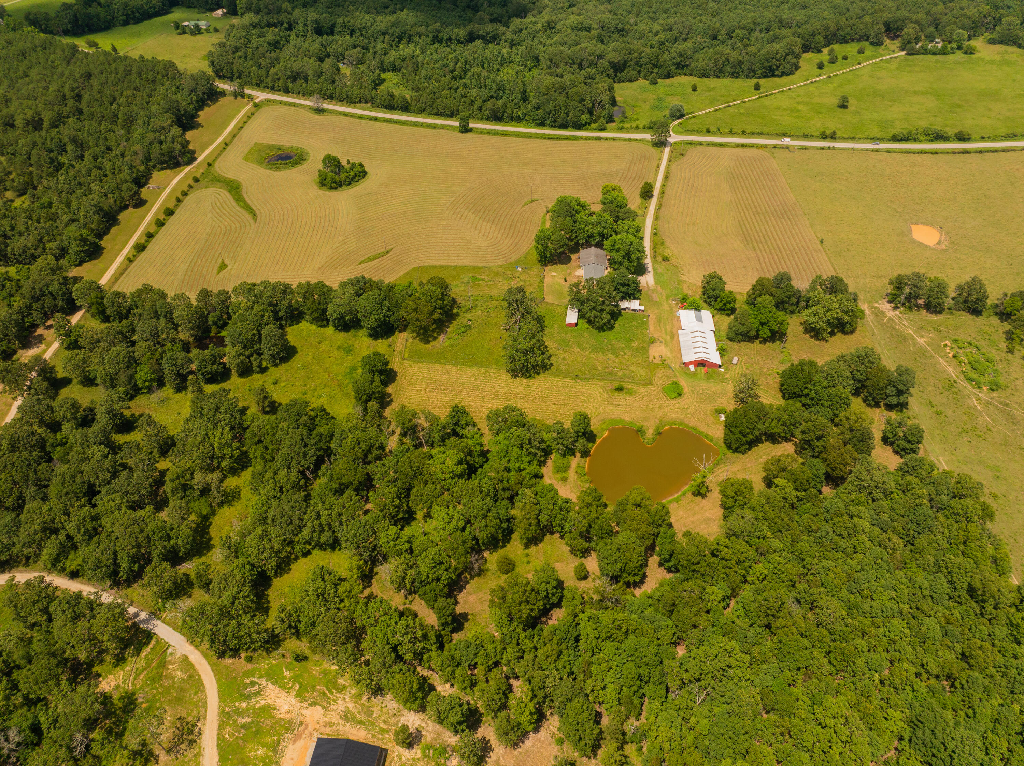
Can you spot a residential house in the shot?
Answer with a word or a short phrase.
Yes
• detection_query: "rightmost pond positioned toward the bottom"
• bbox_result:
[586,427,720,509]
